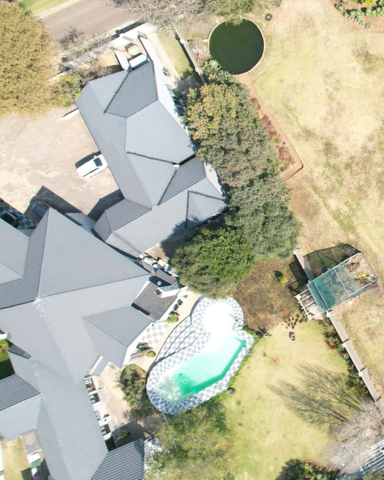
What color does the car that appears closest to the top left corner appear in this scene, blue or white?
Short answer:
white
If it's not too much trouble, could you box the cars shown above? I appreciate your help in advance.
[28,203,47,218]
[77,155,105,177]
[2,209,30,229]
